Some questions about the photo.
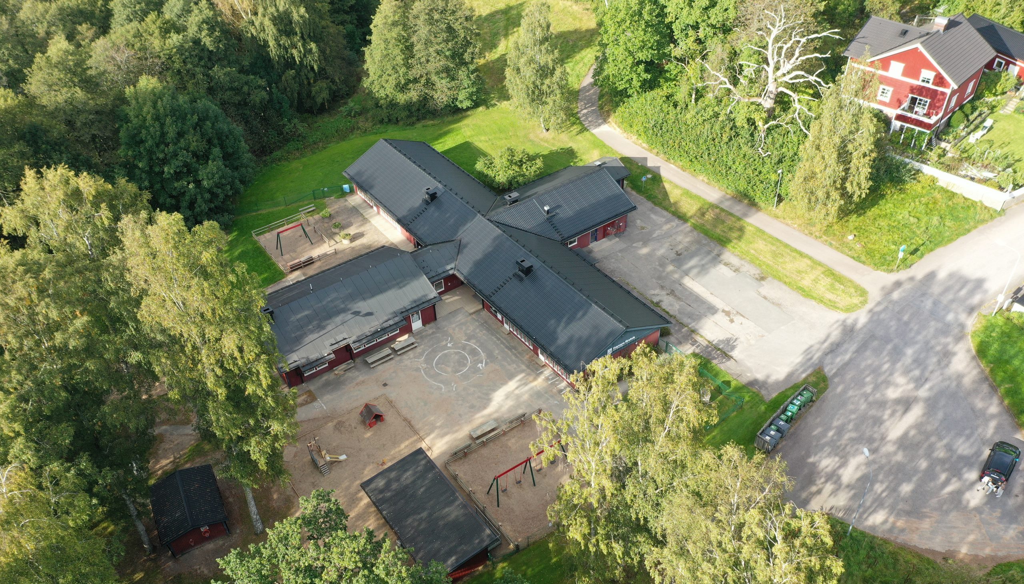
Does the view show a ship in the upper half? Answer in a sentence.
No, looking in the upper half, there is no ship.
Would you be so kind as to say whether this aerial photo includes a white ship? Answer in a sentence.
No, no white ship is visible in the view.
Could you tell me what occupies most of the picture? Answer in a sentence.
The bulk of the photo consists of trees.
